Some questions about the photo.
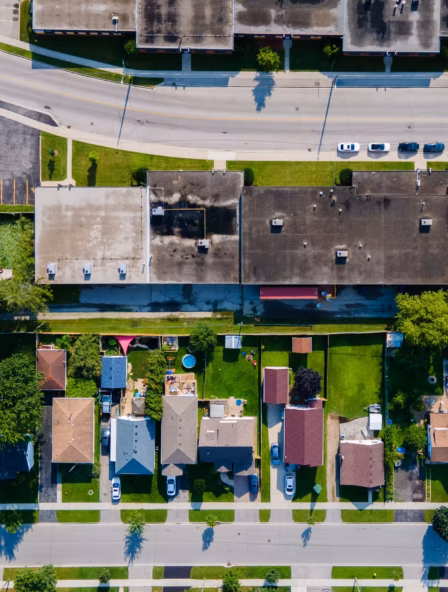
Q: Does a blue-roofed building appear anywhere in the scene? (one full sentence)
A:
Yes, the picture does show a blue-roofed building.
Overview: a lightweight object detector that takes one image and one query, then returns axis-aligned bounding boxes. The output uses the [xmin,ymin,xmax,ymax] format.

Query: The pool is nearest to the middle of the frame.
[182,354,197,368]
